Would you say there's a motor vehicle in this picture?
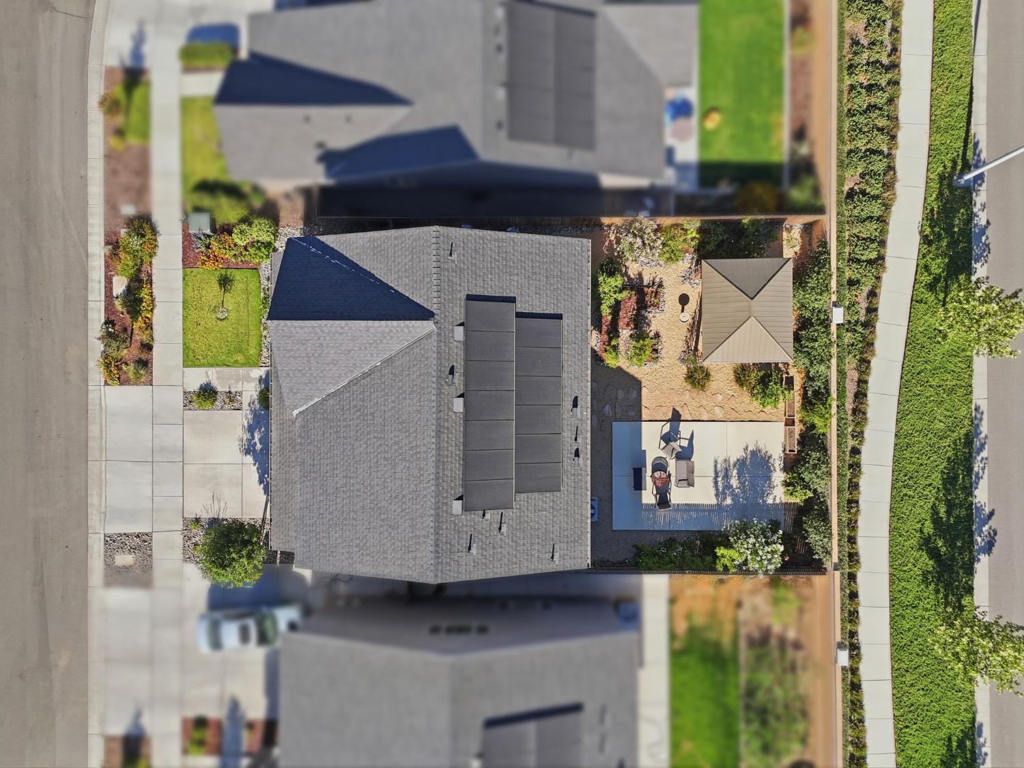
Yes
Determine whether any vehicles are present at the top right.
No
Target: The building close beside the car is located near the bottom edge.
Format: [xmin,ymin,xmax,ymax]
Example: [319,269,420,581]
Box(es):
[276,598,643,768]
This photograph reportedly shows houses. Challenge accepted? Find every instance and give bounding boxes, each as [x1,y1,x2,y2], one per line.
[268,226,593,583]
[276,598,643,768]
[211,0,700,193]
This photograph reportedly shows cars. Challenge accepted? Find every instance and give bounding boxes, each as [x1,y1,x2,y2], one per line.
[194,599,304,655]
